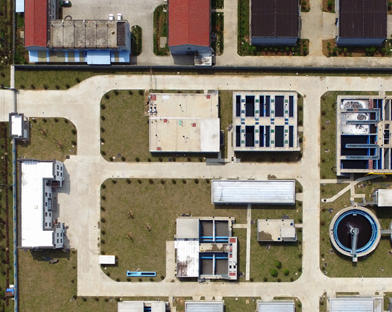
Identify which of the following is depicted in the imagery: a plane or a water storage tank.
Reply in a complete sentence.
It is a water storage tank that can be seen here.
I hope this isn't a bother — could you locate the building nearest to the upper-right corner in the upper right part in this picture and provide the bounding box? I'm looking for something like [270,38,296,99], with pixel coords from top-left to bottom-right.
[334,0,389,45]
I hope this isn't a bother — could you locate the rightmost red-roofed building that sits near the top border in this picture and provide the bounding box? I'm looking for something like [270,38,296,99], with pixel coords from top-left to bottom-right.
[169,0,212,67]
